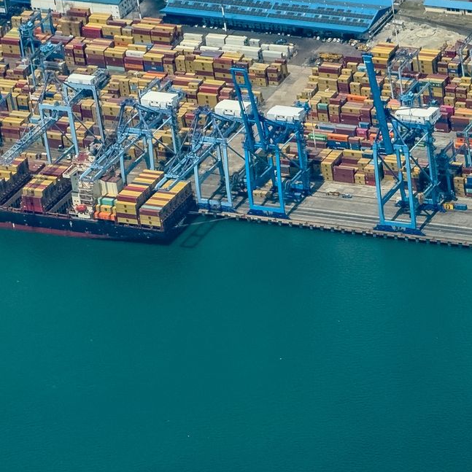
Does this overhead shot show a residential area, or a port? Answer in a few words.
port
